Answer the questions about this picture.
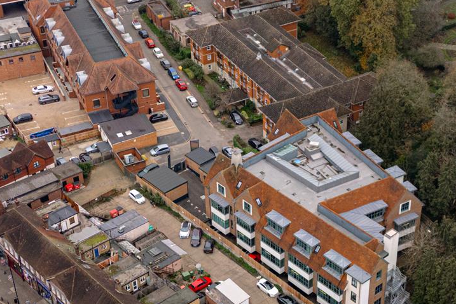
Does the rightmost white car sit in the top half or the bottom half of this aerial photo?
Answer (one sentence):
You can find the rightmost white car in the bottom half.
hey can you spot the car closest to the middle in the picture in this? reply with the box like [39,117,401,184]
[220,145,235,161]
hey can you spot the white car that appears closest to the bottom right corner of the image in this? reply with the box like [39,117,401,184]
[254,279,280,299]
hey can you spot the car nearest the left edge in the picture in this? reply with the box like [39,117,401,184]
[10,113,35,125]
